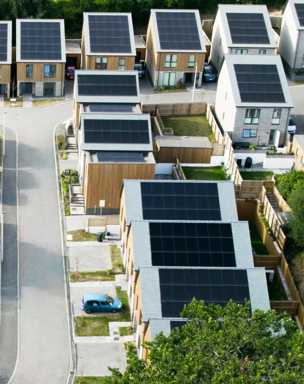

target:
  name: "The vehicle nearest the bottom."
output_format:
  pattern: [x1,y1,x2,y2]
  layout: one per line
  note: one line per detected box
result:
[80,292,122,313]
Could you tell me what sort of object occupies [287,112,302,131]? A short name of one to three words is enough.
car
